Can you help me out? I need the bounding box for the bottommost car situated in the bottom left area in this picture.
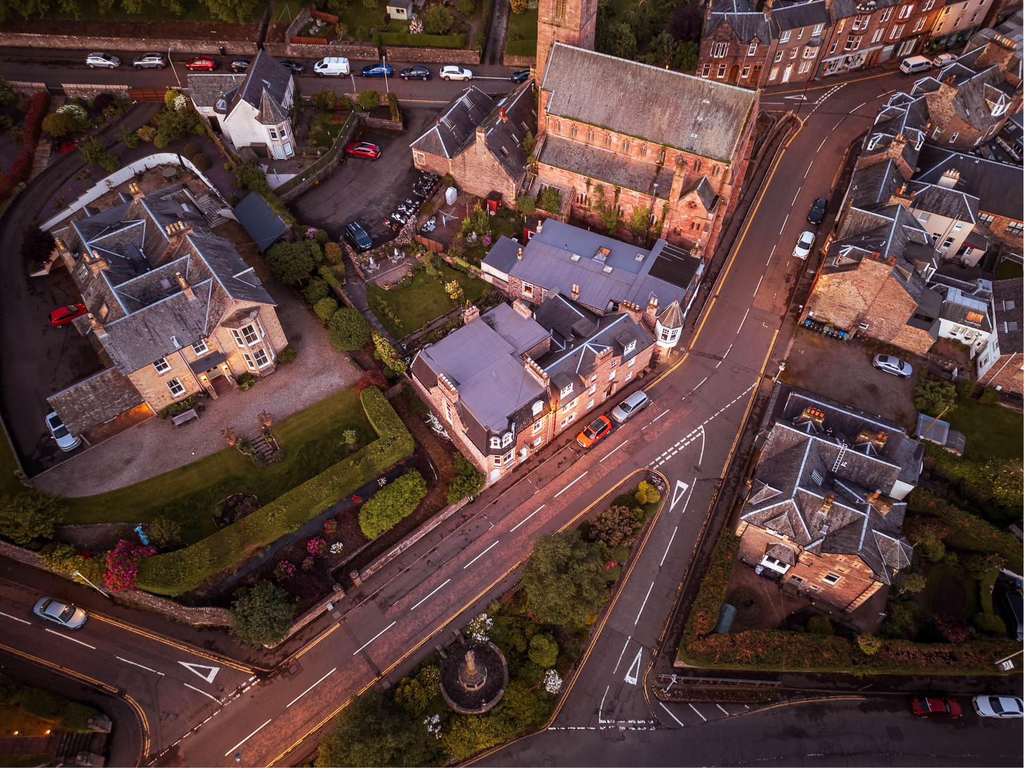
[30,593,91,632]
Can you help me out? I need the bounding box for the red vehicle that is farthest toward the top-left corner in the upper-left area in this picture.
[185,55,219,72]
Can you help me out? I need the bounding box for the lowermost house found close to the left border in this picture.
[46,172,287,447]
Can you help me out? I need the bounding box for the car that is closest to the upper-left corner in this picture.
[84,51,122,70]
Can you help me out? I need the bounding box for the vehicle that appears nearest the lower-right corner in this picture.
[968,691,1024,721]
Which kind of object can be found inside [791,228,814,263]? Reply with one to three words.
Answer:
car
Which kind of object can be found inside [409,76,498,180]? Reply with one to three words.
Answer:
building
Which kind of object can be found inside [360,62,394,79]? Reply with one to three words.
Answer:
car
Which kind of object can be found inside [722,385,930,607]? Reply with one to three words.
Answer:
house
